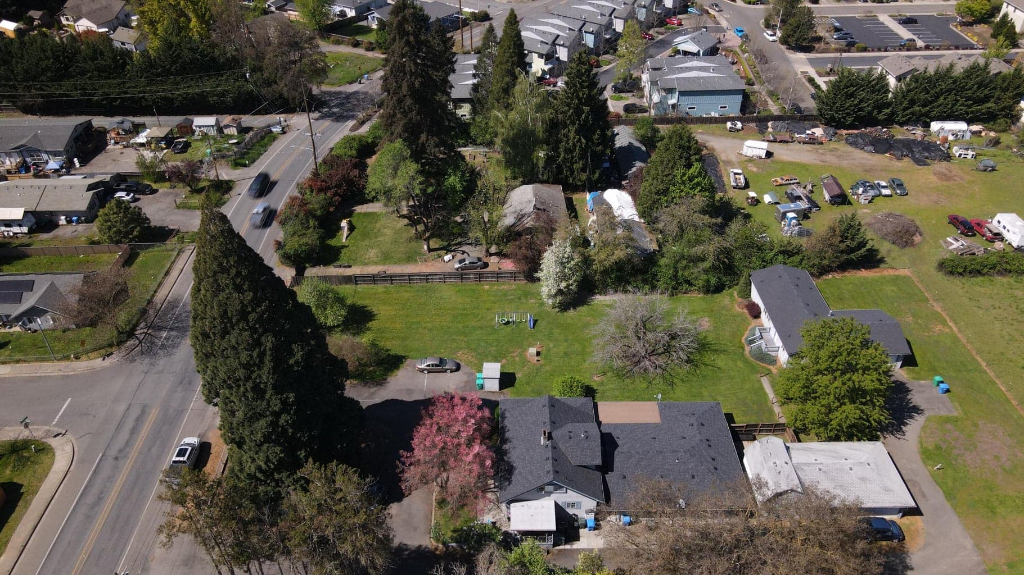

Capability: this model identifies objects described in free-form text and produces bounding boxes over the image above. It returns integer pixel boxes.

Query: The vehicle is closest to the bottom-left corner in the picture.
[163,436,200,481]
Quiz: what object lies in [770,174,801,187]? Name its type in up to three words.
vehicle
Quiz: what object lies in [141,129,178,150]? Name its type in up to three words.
gazebo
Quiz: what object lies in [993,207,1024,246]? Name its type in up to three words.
trailer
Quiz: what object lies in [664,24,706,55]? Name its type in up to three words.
building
